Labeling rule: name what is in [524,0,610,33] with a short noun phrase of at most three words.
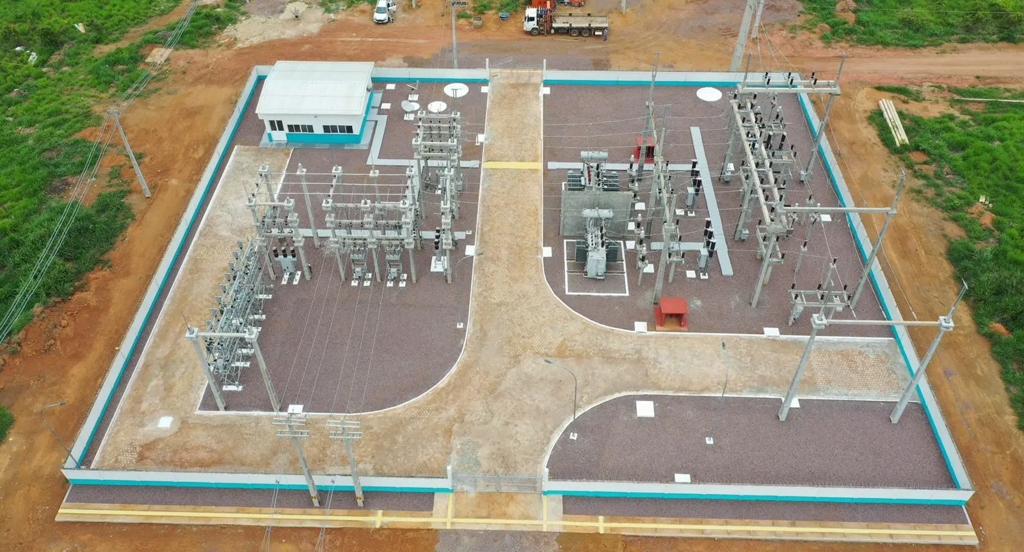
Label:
truck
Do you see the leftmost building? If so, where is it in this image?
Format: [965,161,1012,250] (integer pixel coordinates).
[254,60,376,144]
